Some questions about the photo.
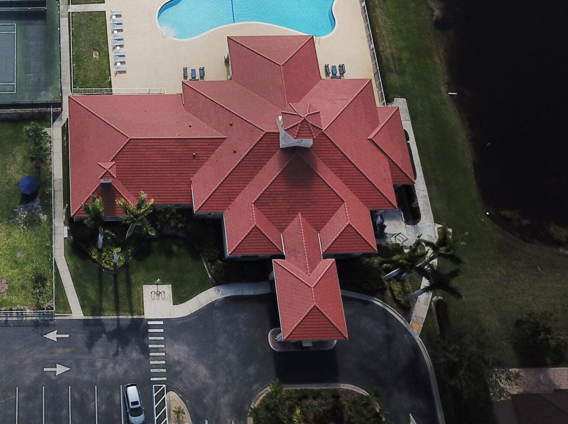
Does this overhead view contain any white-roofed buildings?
No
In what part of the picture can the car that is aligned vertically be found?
bottom left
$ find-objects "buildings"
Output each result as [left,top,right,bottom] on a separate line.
[68,34,416,343]
[488,375,568,424]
